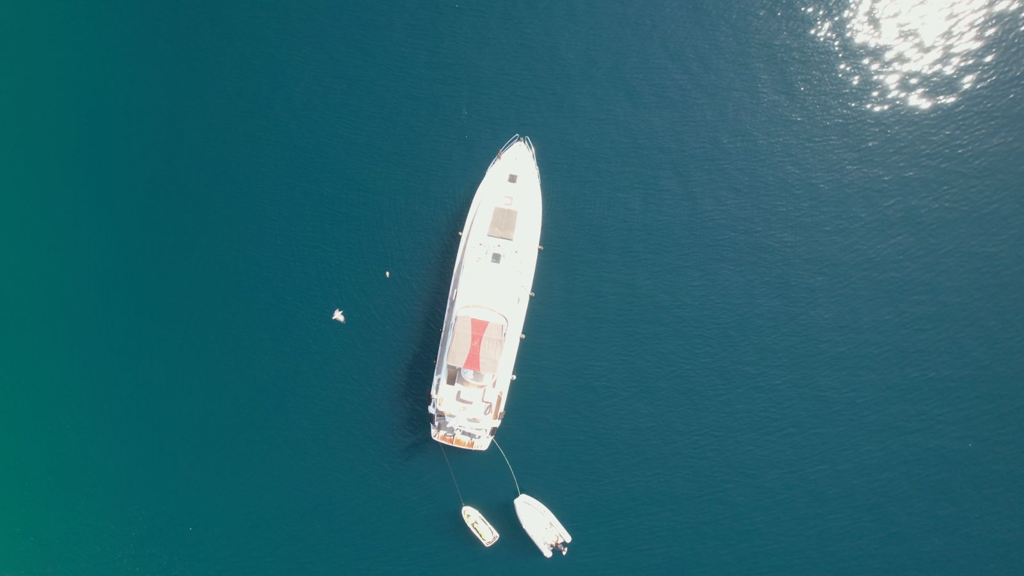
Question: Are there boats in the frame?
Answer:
Yes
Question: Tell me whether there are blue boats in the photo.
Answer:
No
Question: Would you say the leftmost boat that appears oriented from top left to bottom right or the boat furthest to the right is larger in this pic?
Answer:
the boat furthest to the right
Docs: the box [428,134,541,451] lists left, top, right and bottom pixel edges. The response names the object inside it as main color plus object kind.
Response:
white boat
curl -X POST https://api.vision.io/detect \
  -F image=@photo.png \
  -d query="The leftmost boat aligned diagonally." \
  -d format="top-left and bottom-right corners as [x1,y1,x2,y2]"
[463,506,500,547]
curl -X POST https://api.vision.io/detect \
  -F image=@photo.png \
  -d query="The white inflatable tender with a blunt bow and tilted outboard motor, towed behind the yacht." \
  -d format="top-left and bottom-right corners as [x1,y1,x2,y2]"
[514,495,572,558]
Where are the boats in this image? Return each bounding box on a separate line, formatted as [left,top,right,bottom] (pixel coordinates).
[463,506,500,547]
[514,495,572,558]
[428,134,541,451]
